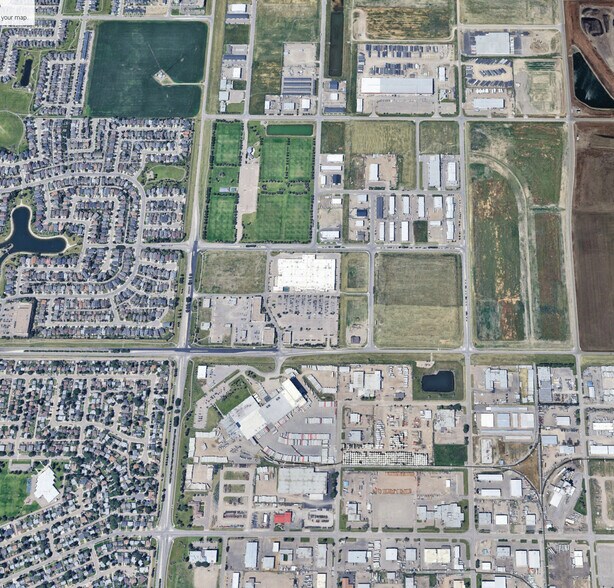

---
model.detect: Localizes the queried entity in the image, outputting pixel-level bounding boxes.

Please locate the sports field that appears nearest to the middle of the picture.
[256,196,314,240]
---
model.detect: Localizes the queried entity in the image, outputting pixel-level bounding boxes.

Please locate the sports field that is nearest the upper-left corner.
[212,122,240,164]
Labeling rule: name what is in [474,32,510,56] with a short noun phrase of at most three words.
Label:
building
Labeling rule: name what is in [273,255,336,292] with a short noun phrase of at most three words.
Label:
building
